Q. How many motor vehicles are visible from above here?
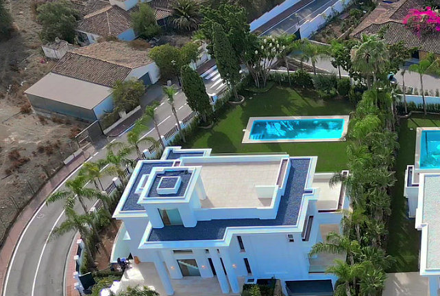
zero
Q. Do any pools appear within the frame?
Yes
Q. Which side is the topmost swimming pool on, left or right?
right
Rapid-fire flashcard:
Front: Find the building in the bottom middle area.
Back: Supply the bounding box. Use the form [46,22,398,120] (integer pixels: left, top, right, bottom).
[107,147,350,296]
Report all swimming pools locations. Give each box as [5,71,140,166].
[242,114,349,143]
[414,125,440,167]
